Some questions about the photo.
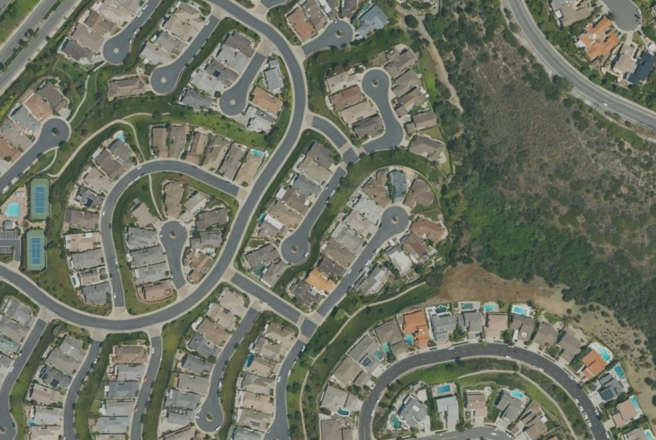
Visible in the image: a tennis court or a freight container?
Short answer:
tennis court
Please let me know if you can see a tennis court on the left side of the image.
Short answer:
Yes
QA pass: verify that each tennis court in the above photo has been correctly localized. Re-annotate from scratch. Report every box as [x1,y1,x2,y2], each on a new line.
[26,230,46,271]
[30,179,50,220]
